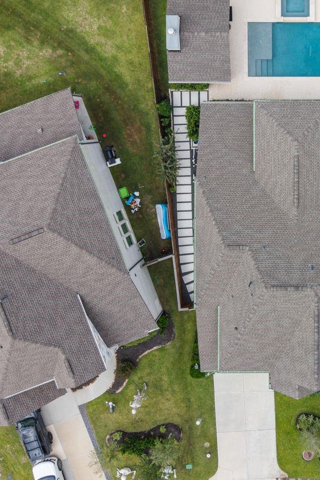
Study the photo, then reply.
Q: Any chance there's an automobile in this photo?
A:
Yes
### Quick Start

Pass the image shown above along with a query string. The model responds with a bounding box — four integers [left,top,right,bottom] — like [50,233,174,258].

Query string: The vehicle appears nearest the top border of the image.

[12,408,56,465]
